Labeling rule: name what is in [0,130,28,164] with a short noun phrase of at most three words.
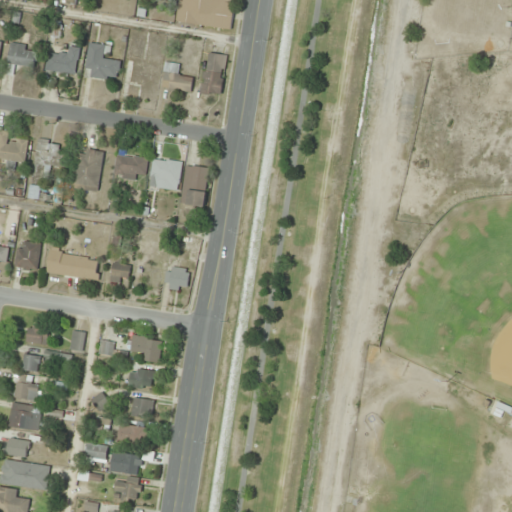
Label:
house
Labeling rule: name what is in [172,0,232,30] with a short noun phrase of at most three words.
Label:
building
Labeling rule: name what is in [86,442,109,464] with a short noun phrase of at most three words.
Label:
house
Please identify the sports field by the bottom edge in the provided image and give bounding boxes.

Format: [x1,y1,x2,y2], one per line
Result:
[361,399,479,512]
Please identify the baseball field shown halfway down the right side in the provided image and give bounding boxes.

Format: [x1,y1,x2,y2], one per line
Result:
[382,195,512,403]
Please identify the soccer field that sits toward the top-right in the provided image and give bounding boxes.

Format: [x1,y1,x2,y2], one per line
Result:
[432,0,512,47]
